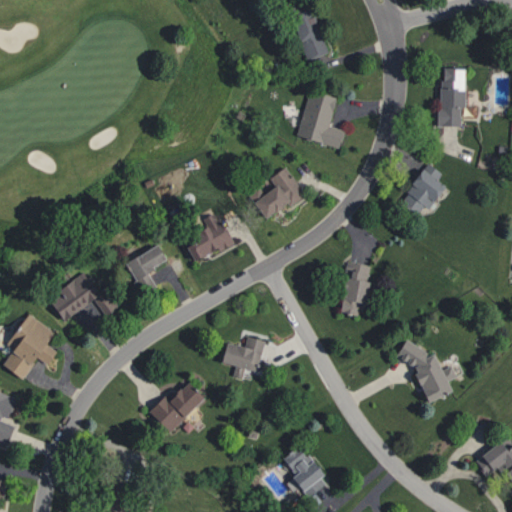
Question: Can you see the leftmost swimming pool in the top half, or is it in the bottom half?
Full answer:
The leftmost swimming pool is in the bottom half of the image.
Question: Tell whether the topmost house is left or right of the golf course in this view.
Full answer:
To the right of the golf course is where the topmost house appears.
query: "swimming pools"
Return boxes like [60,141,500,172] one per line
[264,471,288,498]
[496,78,510,106]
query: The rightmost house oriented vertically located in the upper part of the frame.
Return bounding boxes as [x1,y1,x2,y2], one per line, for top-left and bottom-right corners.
[438,68,467,128]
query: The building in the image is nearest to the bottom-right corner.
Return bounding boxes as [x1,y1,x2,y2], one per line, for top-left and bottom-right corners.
[476,436,512,480]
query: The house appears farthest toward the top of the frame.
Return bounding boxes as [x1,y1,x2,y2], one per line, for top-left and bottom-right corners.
[296,16,329,60]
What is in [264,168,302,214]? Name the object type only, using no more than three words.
house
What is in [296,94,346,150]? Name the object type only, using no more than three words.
house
